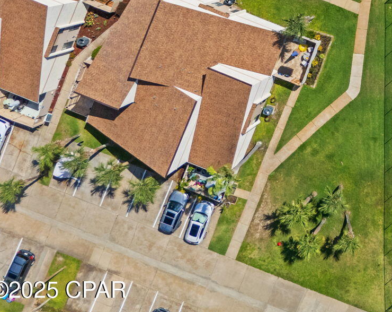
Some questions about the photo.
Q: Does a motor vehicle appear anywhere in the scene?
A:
Yes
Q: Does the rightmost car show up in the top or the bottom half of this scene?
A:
bottom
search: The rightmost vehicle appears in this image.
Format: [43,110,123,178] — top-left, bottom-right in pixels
[179,202,211,250]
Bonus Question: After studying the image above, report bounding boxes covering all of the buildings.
[61,0,319,202]
[0,0,120,131]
